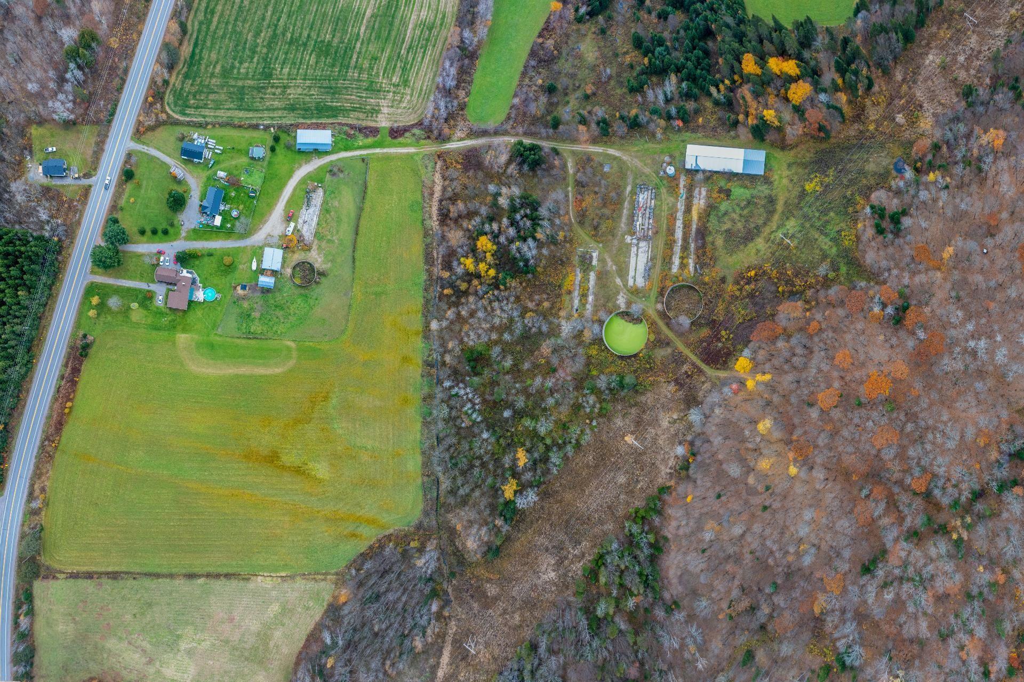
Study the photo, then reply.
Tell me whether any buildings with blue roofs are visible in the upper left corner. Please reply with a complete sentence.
Yes, a building with a blue roof is visible in the upper left corner.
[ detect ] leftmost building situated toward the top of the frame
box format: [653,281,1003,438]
[40,159,72,176]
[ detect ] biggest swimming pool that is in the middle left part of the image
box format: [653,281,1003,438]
[202,288,217,301]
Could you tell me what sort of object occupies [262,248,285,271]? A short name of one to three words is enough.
shed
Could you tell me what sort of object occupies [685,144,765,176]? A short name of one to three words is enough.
barn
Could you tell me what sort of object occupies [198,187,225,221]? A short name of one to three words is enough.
house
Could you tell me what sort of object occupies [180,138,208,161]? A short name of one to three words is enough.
building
